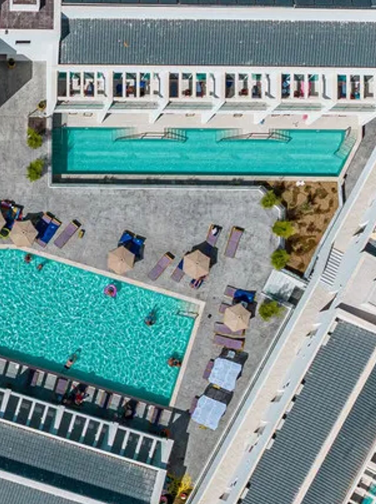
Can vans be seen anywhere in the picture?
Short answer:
No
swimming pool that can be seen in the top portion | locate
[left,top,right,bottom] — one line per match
[47,122,362,181]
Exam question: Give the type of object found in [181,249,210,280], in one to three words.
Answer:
umbrella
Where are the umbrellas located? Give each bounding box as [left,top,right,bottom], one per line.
[9,218,37,249]
[222,303,251,333]
[181,249,210,280]
[106,246,136,276]
[190,393,228,431]
[205,355,243,393]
